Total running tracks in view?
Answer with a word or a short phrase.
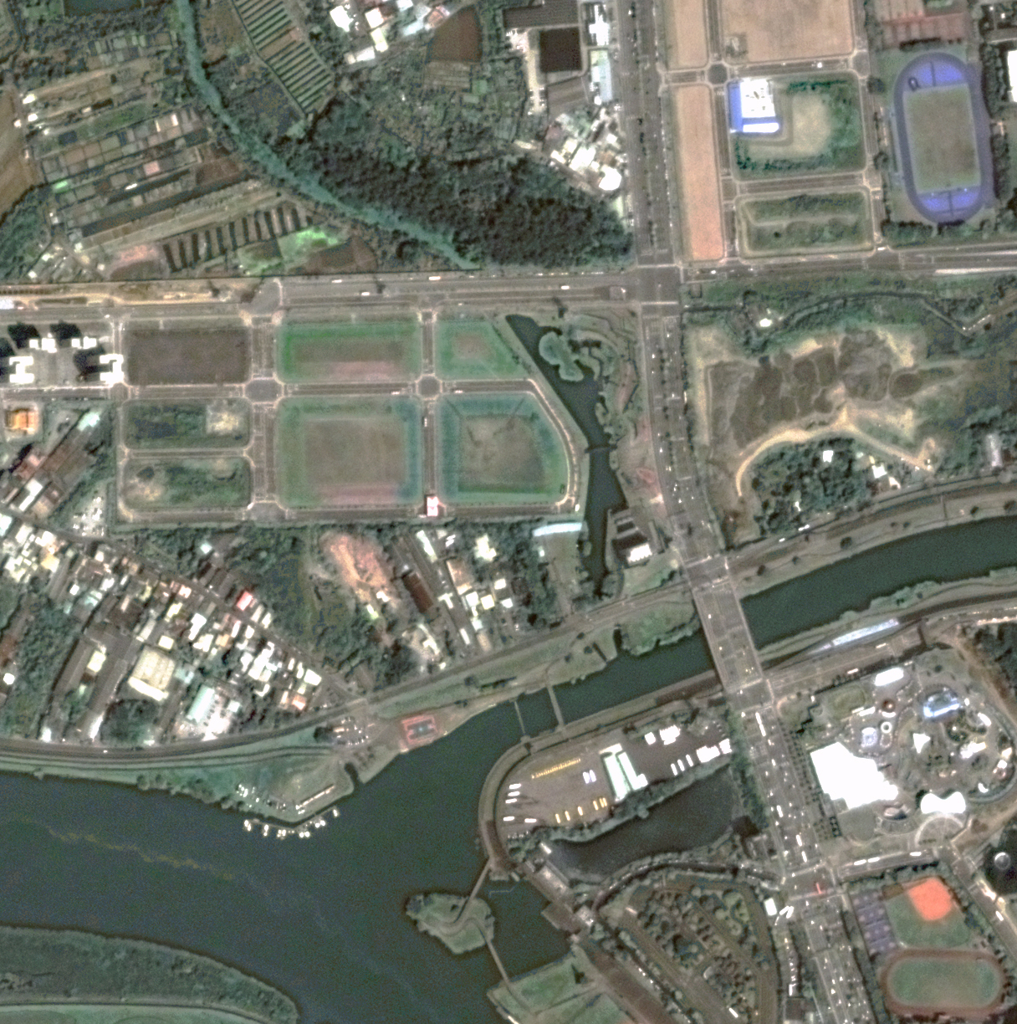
2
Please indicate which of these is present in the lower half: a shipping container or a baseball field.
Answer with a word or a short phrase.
baseball field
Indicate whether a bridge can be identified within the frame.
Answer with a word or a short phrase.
Yes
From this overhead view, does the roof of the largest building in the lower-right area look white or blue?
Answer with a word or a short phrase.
white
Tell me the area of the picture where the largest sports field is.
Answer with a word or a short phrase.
top right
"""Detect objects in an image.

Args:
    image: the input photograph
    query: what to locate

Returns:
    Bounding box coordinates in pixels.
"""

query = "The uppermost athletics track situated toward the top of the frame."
[893,53,993,223]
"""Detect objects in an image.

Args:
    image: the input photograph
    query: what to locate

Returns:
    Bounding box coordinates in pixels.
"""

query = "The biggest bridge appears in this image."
[694,577,767,690]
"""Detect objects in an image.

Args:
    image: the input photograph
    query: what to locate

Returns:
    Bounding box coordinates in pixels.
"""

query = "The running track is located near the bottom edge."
[880,948,1005,1015]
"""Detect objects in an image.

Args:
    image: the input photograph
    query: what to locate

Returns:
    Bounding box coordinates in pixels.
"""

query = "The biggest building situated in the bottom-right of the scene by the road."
[810,742,898,809]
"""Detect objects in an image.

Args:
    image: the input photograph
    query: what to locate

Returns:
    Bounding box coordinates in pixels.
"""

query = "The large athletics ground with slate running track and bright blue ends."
[893,53,993,223]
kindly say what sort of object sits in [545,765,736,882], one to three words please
pond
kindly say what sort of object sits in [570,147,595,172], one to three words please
building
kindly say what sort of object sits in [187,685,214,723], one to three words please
building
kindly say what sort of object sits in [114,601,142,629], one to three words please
house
